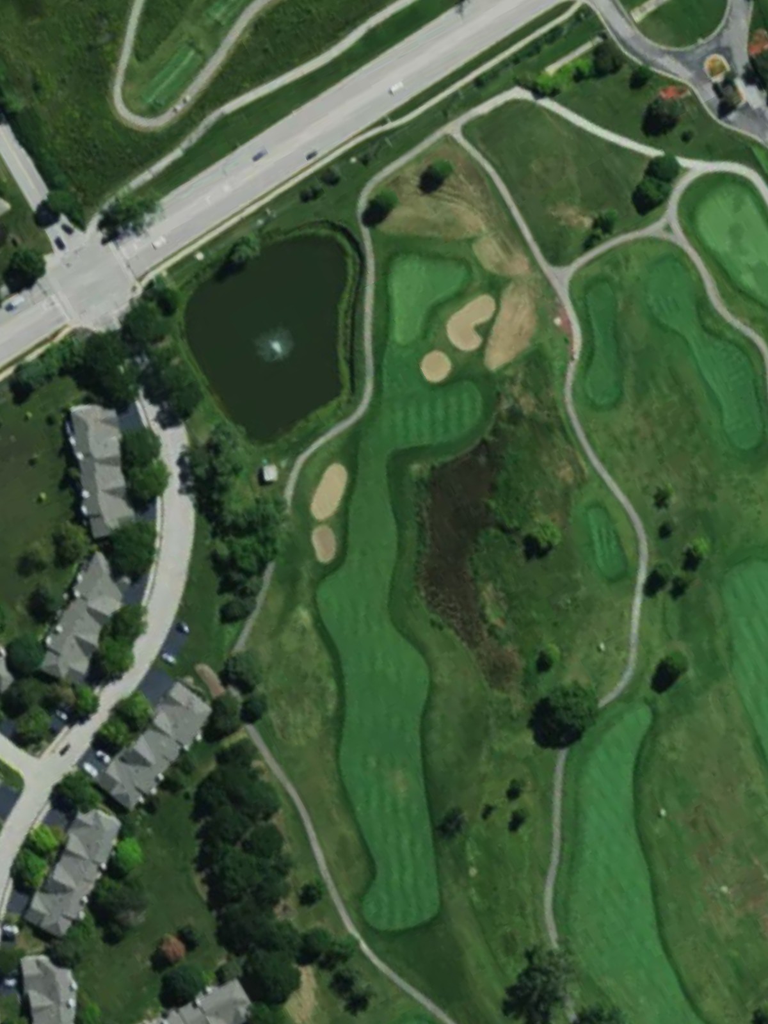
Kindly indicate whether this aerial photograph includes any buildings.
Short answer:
Yes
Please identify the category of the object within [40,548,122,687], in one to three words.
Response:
house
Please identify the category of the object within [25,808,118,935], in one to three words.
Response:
house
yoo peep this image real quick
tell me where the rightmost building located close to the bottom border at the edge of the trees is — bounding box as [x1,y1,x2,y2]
[160,982,254,1024]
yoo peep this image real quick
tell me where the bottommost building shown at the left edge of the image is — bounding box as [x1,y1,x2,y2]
[20,954,76,1024]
